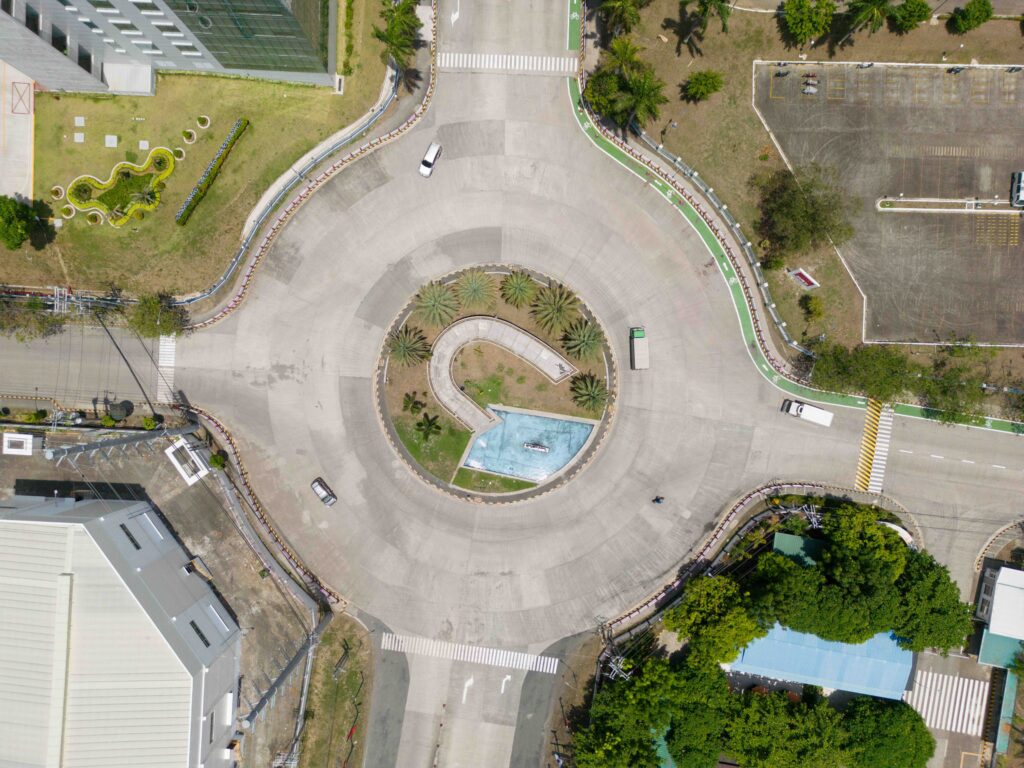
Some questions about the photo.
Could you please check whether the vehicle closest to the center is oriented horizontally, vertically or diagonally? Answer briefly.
vertically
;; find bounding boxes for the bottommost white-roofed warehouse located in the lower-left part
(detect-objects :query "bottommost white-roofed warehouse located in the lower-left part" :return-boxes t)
[0,499,252,768]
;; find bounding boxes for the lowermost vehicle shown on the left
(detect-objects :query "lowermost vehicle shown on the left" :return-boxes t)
[310,475,338,507]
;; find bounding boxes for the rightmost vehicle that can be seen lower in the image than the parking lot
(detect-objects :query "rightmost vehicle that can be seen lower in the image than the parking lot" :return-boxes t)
[779,397,836,425]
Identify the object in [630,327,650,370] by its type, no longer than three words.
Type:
vehicle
